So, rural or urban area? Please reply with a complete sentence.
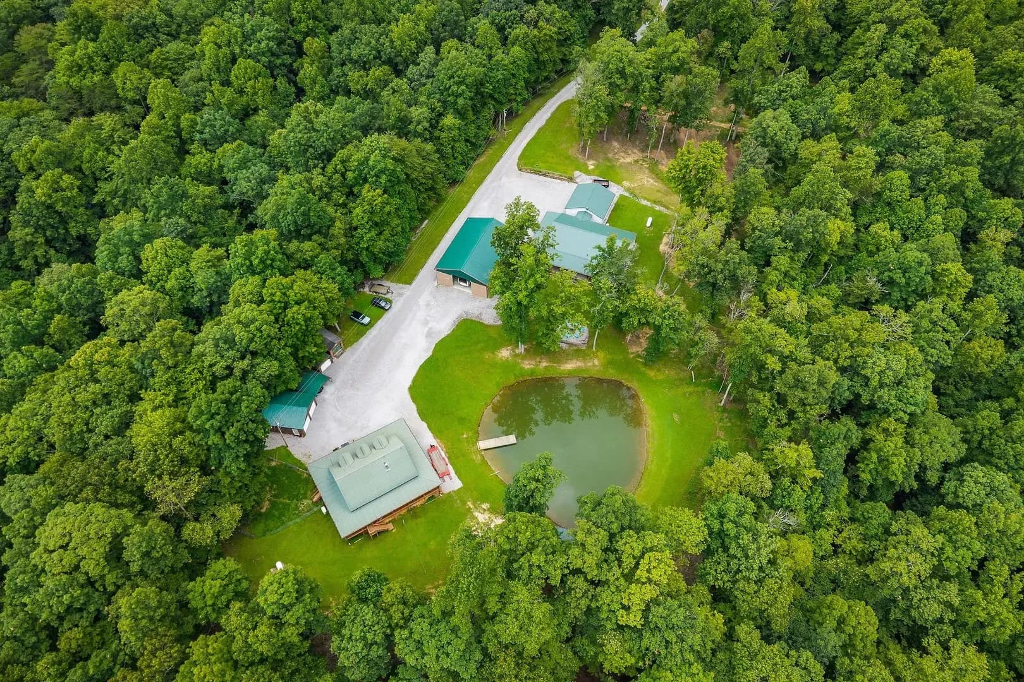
From above, the setting appears rural.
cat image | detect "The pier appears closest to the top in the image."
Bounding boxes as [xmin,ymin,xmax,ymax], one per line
[478,435,516,451]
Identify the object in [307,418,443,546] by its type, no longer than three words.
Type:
house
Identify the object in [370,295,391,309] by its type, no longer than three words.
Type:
car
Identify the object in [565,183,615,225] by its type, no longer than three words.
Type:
shed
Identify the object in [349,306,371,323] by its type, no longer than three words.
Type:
car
